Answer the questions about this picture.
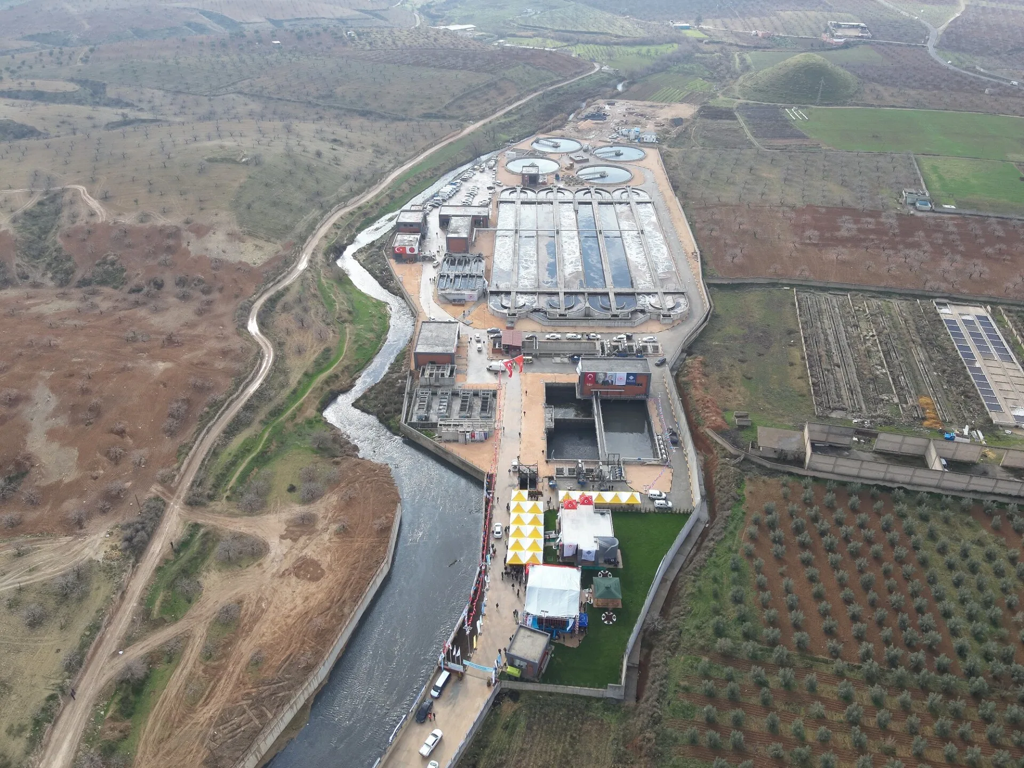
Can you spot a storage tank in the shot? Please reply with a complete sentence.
Yes, there's a storage tank here.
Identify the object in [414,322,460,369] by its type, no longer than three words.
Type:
building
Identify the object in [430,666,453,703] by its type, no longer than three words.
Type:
vehicle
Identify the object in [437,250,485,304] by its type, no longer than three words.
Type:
storage tank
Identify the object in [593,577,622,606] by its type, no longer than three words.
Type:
gazebo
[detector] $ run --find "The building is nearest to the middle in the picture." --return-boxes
[501,330,526,357]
